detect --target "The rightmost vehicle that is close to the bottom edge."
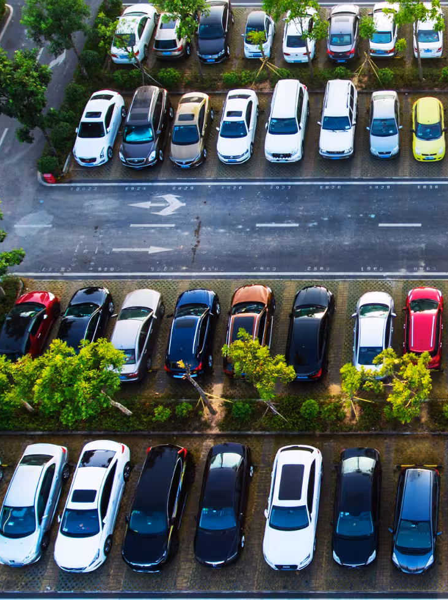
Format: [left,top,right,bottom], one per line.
[384,468,439,575]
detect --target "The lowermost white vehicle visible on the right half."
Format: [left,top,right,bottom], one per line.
[260,450,320,571]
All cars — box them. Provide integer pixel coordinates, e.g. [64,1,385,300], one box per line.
[367,1,402,59]
[151,9,195,61]
[110,290,166,383]
[384,468,439,575]
[365,92,404,161]
[68,91,122,168]
[195,0,238,66]
[167,94,216,170]
[53,288,113,378]
[160,288,219,379]
[413,8,446,60]
[282,286,330,383]
[214,90,260,165]
[217,283,271,382]
[328,450,382,569]
[0,445,67,566]
[260,450,320,571]
[239,13,276,61]
[191,445,254,570]
[401,286,448,373]
[326,3,361,65]
[282,7,319,65]
[351,291,397,382]
[411,102,447,163]
[264,81,309,164]
[120,449,191,573]
[0,292,53,384]
[48,443,122,572]
[316,81,358,161]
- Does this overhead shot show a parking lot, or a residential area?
parking lot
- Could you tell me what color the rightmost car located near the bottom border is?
blue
